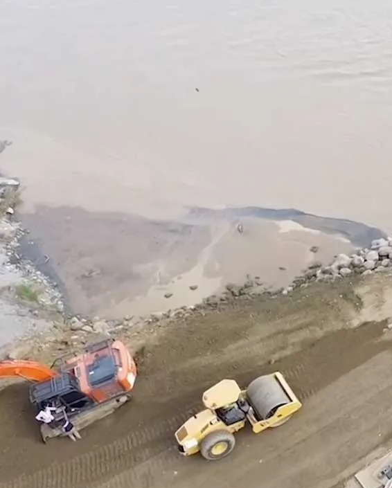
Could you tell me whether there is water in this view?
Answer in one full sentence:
Yes, the picture does contain water.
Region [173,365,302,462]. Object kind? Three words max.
work vehicle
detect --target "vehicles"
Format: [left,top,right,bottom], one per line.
[173,365,302,462]
[0,335,139,440]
